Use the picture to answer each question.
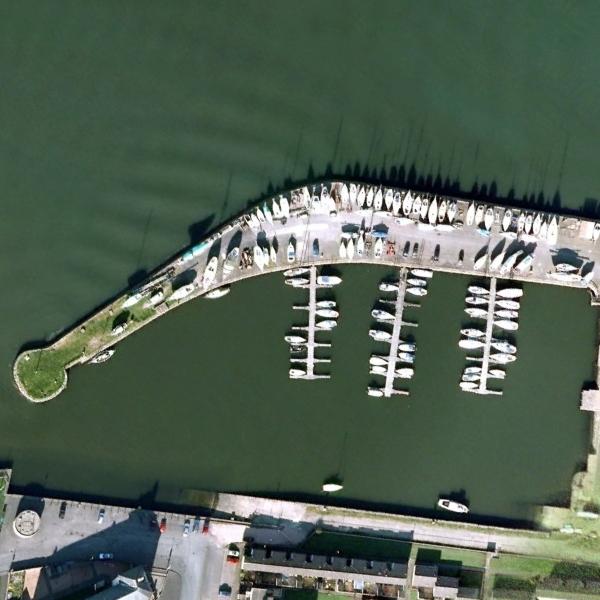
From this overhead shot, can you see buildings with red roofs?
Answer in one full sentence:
No, there is no building with a red roof in the image.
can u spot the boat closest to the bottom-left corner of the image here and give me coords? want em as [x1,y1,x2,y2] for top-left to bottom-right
[88,350,116,364]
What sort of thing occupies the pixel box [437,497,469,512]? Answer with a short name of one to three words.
boat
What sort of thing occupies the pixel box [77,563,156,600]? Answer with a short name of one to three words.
building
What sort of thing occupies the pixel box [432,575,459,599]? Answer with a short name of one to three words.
house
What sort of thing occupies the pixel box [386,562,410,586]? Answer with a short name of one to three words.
house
